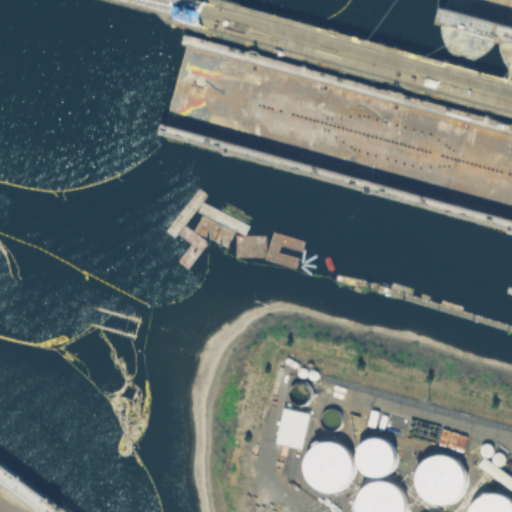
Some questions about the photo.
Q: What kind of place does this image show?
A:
industrial area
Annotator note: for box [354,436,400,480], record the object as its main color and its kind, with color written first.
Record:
white storage tank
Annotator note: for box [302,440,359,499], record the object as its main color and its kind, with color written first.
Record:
white storage tank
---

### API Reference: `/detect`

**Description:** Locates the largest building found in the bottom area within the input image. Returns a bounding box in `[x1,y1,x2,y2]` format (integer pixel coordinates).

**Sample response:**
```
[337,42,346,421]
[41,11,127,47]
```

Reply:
[277,408,312,450]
